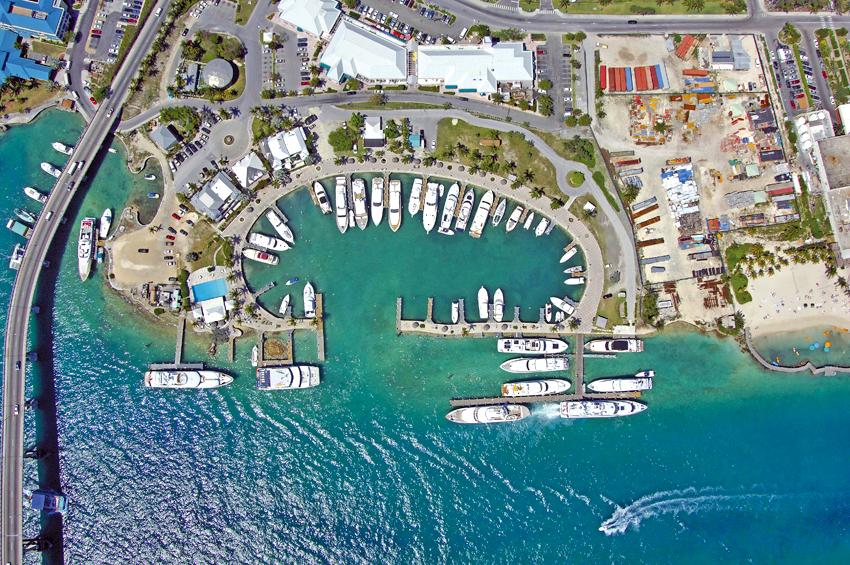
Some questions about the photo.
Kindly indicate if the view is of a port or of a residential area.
port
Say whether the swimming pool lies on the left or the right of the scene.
left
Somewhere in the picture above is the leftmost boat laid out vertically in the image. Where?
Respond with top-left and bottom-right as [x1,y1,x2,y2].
[9,244,25,270]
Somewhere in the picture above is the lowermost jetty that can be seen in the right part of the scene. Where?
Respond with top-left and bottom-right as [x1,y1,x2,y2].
[449,391,642,407]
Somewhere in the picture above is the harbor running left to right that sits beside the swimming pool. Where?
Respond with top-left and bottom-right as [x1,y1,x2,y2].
[214,151,603,335]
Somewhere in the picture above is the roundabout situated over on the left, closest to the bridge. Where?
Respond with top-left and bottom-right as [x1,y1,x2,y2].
[206,117,252,163]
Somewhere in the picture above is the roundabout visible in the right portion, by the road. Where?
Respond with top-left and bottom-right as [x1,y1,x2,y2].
[556,158,597,199]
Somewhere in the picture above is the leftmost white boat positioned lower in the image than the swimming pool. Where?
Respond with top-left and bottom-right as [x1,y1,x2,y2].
[144,370,232,388]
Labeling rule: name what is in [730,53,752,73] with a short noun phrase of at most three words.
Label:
shed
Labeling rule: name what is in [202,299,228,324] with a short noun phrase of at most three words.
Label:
building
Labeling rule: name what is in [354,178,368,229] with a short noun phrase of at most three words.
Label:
boat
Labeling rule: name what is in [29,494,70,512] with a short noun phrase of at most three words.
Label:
ship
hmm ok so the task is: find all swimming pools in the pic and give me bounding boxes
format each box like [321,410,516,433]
[188,265,232,328]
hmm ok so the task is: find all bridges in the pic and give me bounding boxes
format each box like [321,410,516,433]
[2,0,173,565]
